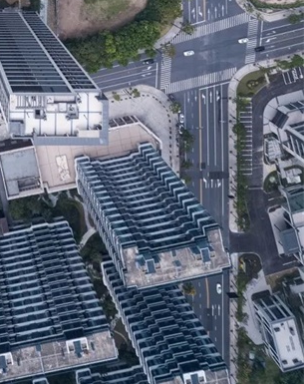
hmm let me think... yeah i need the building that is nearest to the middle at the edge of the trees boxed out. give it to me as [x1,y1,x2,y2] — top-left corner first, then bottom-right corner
[80,145,228,293]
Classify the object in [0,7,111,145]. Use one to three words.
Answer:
building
